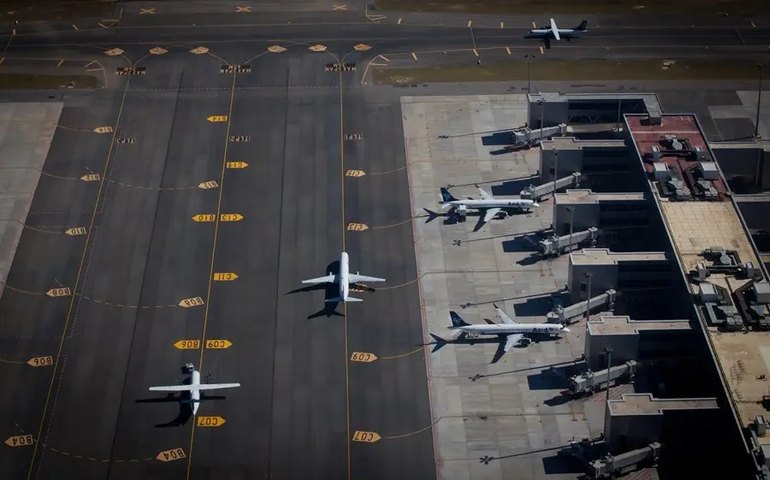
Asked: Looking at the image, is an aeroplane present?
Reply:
Yes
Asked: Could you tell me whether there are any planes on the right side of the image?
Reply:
Yes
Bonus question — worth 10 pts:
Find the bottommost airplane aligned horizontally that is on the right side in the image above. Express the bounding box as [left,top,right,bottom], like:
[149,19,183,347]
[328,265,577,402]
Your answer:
[448,304,569,349]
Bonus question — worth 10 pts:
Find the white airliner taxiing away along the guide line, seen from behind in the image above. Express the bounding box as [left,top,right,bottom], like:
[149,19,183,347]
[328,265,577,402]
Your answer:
[301,253,388,302]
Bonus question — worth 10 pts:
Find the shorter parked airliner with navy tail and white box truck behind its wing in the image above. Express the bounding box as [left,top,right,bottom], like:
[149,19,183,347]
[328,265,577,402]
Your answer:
[438,183,539,219]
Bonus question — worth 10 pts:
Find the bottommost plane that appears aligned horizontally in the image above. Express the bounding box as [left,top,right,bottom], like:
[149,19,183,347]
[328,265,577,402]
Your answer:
[150,372,241,413]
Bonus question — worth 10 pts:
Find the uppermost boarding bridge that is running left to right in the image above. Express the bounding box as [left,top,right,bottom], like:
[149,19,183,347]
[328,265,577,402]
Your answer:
[508,120,565,147]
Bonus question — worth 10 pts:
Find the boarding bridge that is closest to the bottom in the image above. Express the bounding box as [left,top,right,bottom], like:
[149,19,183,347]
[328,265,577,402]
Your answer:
[585,438,659,479]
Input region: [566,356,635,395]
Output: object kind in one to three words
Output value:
jet bridge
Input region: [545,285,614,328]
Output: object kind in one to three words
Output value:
jet bridge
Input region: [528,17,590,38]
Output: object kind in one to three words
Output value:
airplane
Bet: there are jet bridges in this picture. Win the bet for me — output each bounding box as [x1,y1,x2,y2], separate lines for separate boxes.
[508,120,565,147]
[534,223,596,258]
[566,356,635,395]
[585,438,659,479]
[519,169,580,204]
[545,285,614,328]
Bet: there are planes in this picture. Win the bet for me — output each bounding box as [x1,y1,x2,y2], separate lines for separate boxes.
[150,372,241,413]
[438,183,539,219]
[528,17,590,38]
[448,304,569,349]
[301,253,388,302]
